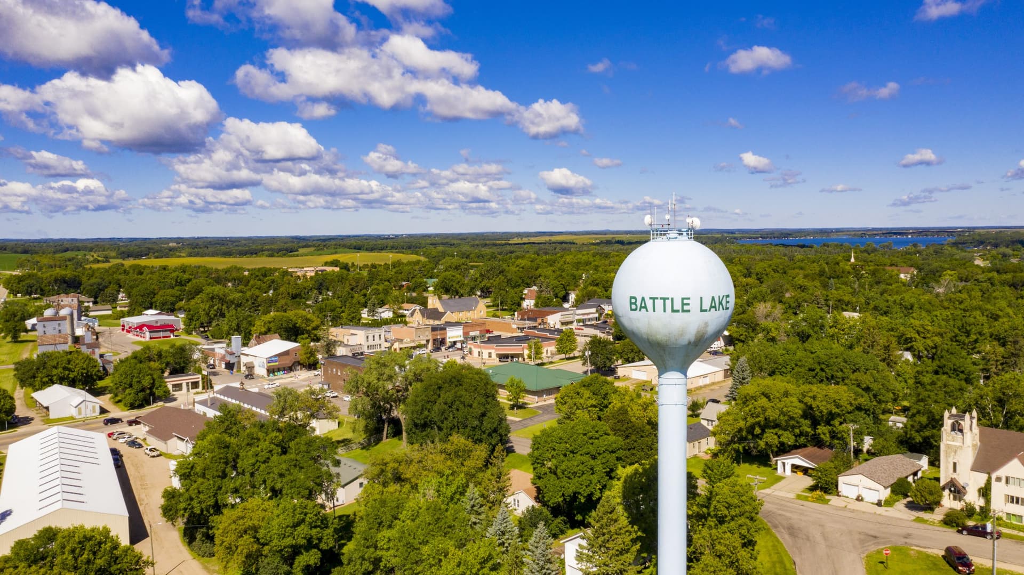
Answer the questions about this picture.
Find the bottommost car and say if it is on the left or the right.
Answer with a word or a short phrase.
right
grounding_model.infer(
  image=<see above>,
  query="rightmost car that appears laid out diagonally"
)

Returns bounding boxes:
[937,543,984,575]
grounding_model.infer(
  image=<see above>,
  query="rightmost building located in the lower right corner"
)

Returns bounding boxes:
[931,421,1024,542]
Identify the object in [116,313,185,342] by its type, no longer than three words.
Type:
building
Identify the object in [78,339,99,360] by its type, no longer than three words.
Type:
shed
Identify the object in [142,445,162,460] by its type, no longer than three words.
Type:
vehicle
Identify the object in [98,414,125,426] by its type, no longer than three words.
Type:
vehicle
